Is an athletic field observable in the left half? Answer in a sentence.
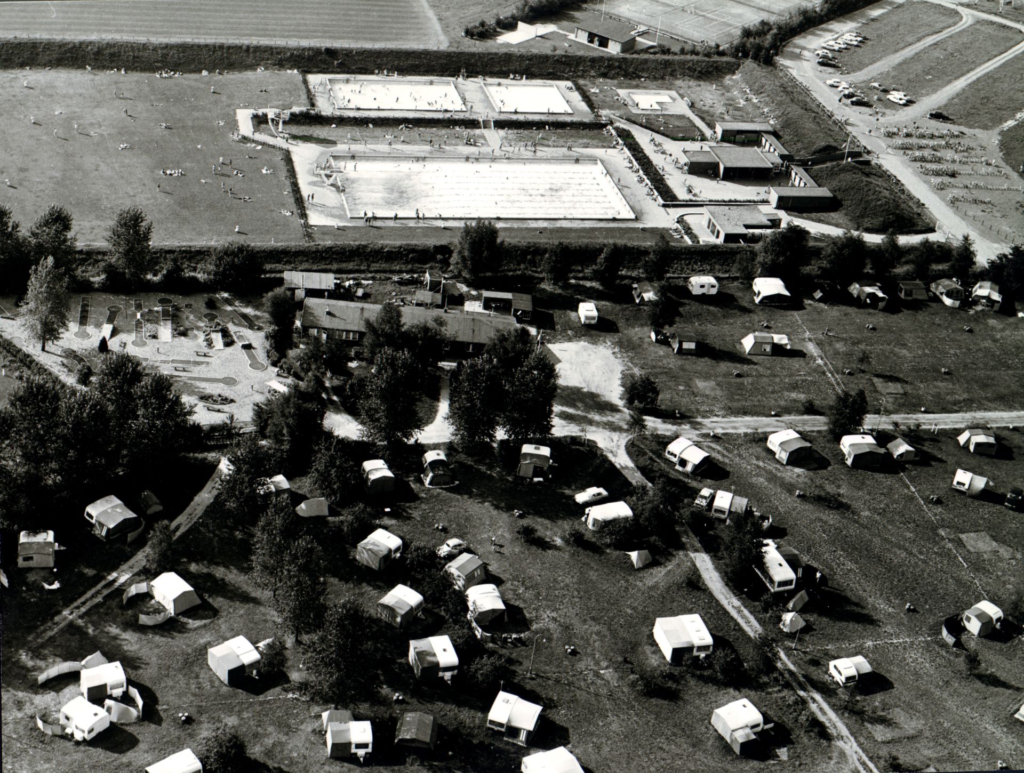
No, there is no athletic field in the left half.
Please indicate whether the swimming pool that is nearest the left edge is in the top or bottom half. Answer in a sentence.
The top half of the photo is where the swimming pool that is nearest the left edge is.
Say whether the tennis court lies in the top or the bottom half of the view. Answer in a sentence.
You can find the tennis court in the top half.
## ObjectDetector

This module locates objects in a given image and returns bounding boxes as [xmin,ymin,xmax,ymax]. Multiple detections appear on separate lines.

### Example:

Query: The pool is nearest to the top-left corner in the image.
[326,75,467,112]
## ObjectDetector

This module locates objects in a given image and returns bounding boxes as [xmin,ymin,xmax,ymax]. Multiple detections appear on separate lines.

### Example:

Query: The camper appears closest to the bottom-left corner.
[71,706,109,745]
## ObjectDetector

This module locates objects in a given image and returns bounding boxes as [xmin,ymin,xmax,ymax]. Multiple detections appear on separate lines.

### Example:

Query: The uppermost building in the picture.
[575,21,639,54]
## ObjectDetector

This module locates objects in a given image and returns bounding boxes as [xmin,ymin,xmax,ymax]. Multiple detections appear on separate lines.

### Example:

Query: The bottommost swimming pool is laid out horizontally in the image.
[331,151,635,221]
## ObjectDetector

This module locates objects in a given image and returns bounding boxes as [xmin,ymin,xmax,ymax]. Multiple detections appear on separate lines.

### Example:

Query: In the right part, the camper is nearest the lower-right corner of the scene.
[976,604,1003,637]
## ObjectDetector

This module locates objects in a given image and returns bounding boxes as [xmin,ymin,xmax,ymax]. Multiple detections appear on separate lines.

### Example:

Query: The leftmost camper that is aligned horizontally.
[19,531,64,555]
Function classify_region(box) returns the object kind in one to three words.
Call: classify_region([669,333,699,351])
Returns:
tent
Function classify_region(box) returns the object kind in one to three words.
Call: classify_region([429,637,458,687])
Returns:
camper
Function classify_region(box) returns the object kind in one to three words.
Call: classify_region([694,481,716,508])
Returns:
car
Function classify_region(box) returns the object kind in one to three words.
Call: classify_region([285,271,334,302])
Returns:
shed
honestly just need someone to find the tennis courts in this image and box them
[592,0,815,44]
